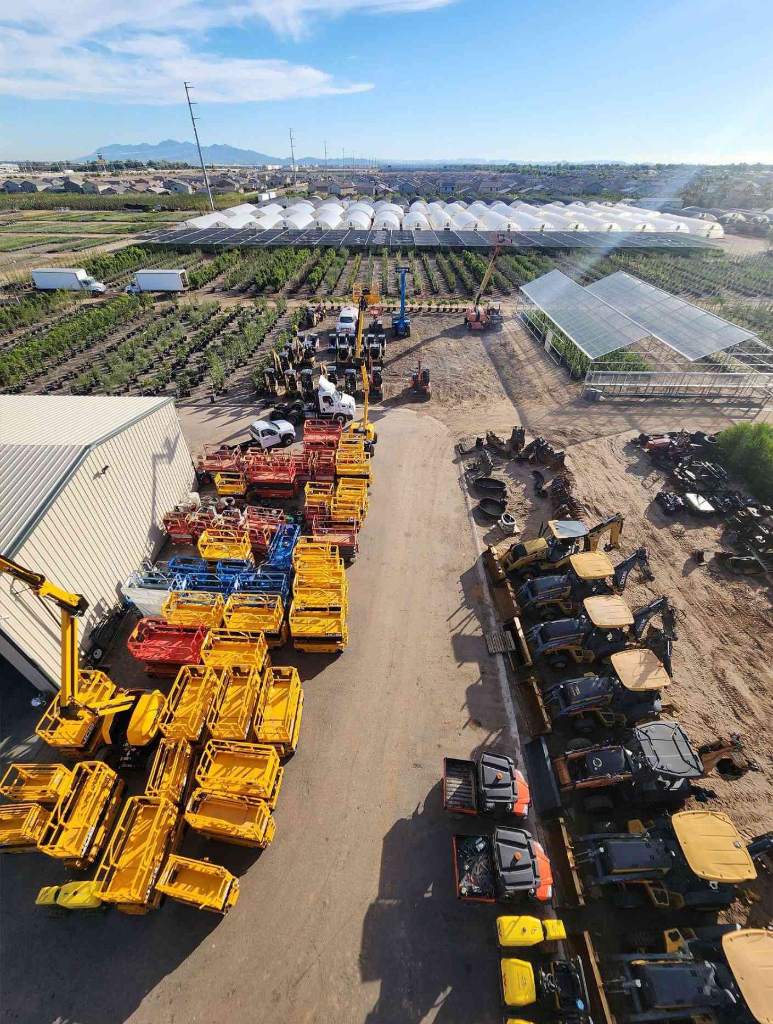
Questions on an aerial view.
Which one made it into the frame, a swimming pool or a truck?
truck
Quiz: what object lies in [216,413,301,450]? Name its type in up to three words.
truck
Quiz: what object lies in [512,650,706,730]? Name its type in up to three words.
work vehicle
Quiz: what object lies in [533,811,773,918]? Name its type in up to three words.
work vehicle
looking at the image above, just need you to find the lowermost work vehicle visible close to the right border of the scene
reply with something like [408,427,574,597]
[553,922,773,1024]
